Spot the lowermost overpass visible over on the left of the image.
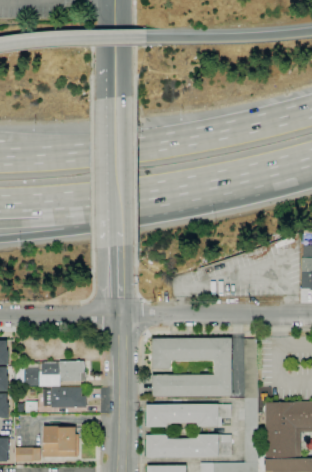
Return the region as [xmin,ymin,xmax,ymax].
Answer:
[90,96,138,245]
